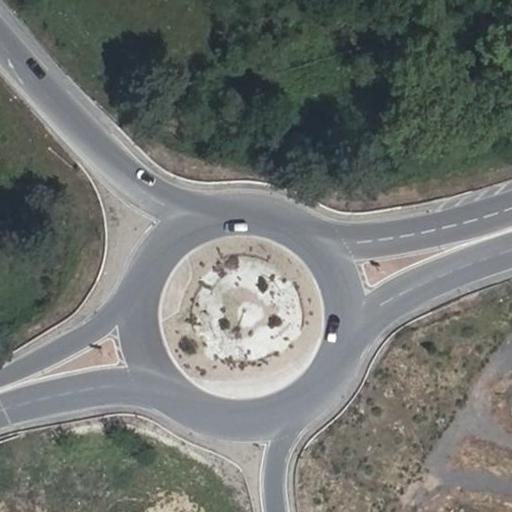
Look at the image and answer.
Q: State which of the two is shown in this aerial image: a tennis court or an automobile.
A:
automobile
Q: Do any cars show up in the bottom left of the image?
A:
No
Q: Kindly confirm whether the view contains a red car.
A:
No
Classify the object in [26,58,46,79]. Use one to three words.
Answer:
car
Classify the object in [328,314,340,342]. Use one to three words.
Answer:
vehicle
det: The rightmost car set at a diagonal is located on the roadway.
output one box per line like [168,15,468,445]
[135,168,157,186]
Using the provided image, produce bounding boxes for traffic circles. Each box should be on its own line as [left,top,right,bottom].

[118,194,364,440]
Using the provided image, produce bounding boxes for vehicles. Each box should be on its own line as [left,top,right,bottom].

[328,314,340,342]
[226,222,248,233]
[135,168,157,186]
[26,58,46,79]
